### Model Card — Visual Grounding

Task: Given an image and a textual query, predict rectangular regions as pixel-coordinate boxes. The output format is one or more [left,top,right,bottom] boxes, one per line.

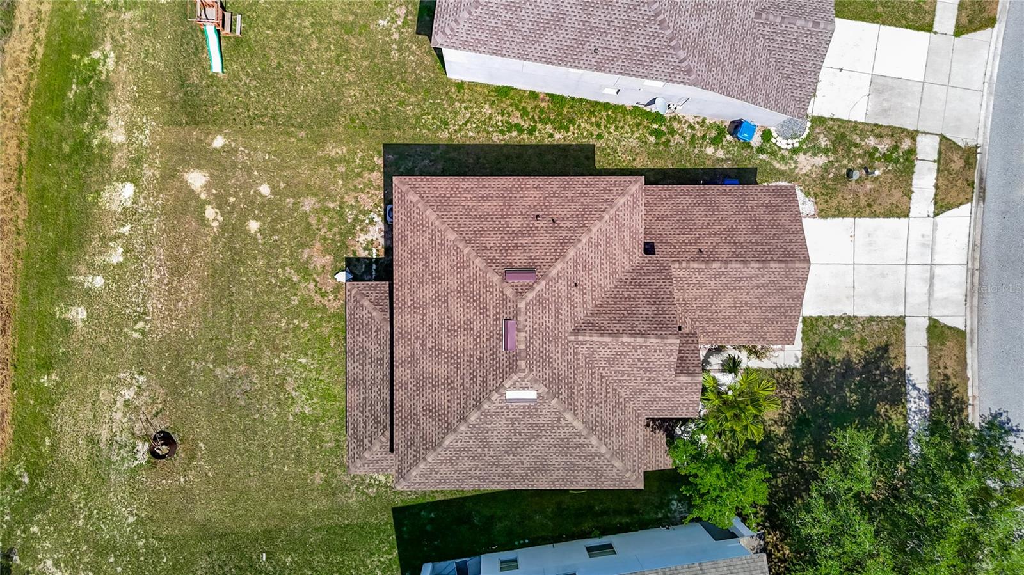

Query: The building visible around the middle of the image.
[346,176,809,490]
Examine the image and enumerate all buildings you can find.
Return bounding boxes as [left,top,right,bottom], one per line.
[419,516,772,575]
[346,176,809,490]
[432,0,840,127]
